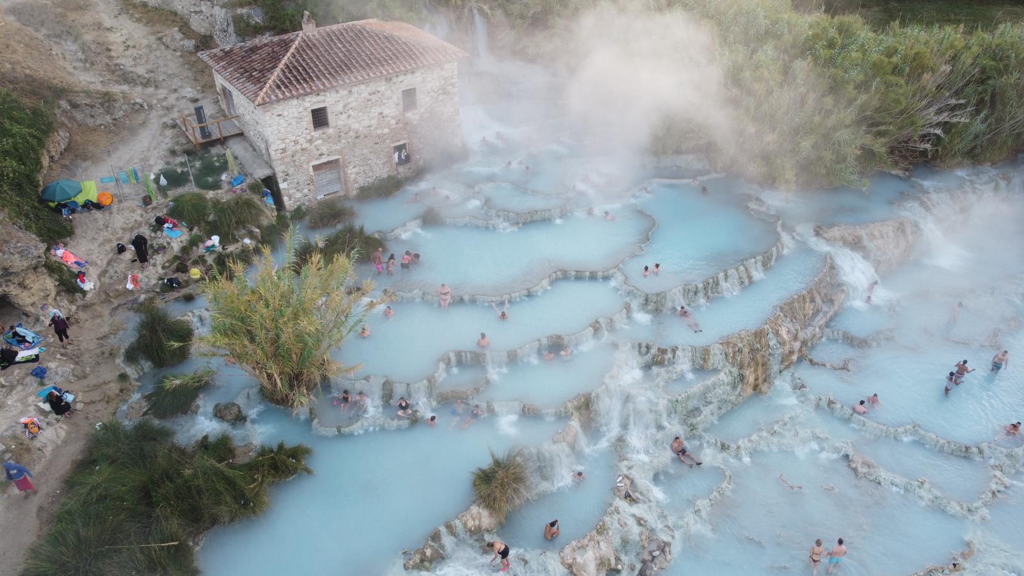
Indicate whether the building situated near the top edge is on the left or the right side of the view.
left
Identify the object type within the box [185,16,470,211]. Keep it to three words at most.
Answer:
building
